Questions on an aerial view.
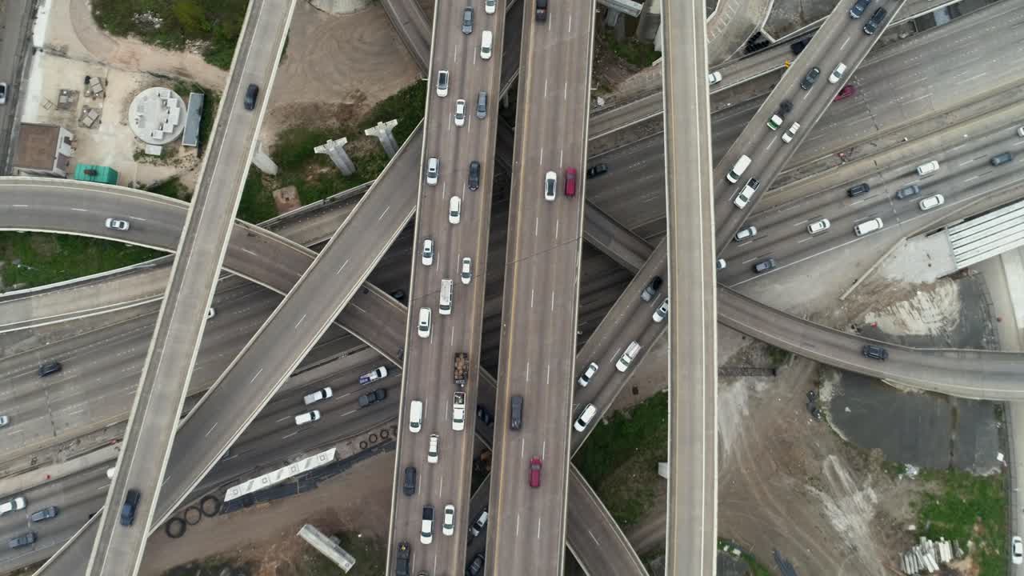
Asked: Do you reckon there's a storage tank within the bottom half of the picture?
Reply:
No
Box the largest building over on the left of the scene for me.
[10,121,75,177]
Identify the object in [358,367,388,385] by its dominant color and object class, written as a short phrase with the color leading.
white vehicle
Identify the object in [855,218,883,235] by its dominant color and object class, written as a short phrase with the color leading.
white vehicle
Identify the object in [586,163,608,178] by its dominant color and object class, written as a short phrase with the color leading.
black car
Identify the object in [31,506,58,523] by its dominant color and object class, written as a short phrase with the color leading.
gray car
